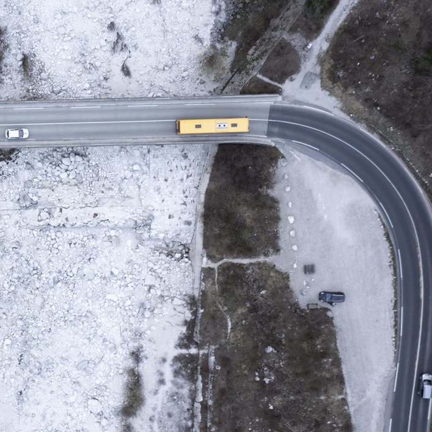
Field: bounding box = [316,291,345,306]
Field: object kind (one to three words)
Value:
car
